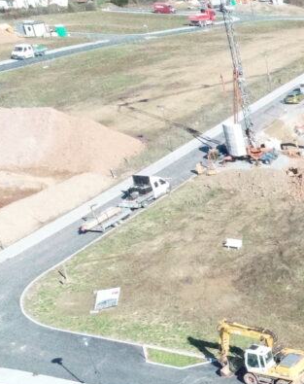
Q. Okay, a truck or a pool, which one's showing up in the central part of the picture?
truck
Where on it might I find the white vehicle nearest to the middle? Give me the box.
[115,166,171,203]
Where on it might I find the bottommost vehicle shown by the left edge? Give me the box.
[14,44,54,59]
